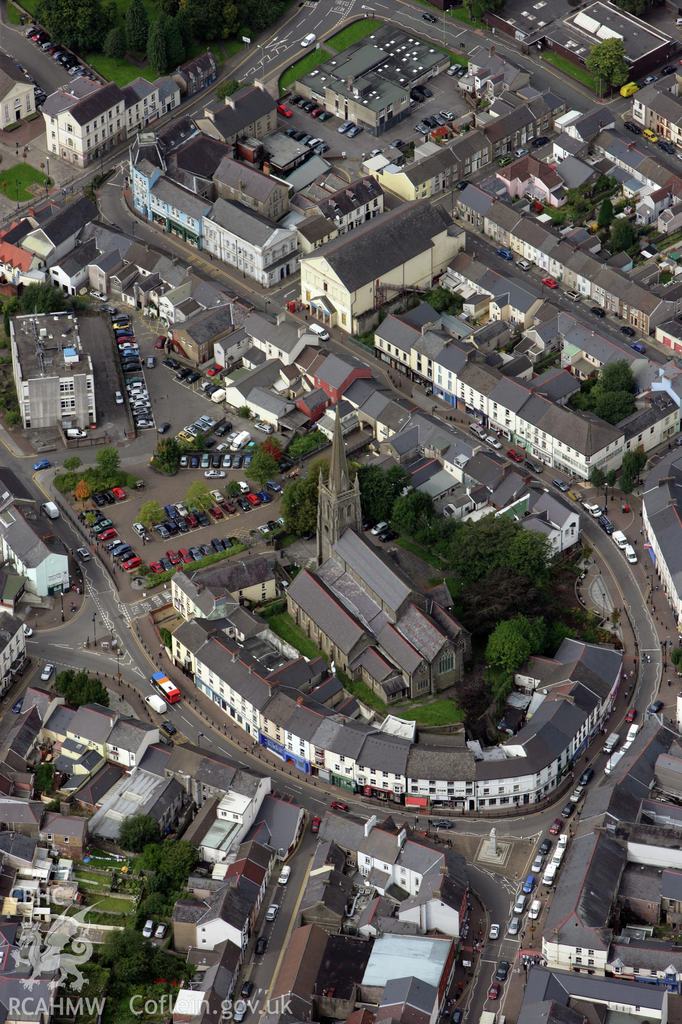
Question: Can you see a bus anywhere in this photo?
Yes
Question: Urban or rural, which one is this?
urban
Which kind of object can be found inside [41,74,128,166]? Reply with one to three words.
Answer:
building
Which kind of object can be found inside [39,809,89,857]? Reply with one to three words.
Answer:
house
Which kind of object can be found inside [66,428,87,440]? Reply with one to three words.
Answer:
vehicle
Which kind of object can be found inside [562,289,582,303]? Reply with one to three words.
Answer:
car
